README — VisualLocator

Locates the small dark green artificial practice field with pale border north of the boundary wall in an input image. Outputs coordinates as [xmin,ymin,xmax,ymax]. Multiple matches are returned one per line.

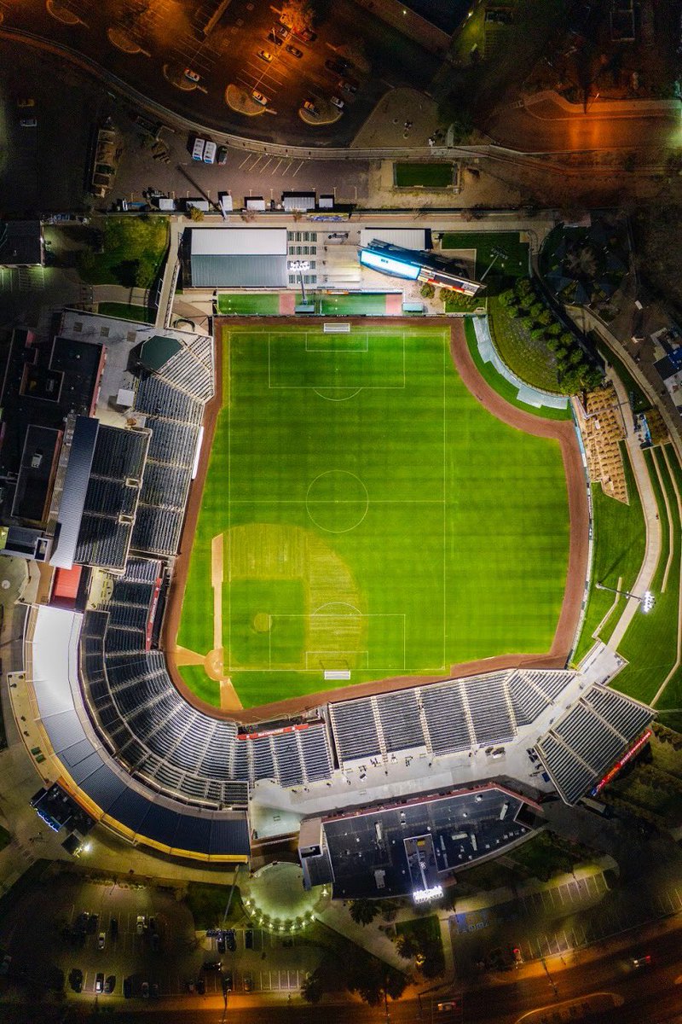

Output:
[385,161,460,191]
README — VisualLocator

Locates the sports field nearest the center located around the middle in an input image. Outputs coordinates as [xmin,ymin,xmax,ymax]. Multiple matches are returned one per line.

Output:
[163,317,589,723]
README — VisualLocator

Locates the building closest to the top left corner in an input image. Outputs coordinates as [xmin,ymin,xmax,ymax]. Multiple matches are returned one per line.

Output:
[0,219,49,273]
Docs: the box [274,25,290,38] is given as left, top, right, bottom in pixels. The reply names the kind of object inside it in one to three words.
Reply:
vehicle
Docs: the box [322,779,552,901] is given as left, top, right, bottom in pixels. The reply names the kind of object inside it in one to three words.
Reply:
building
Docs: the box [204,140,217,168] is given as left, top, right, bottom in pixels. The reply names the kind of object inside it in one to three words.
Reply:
vehicle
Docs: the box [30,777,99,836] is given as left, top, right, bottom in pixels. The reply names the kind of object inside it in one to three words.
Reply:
building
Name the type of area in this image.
sports ground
